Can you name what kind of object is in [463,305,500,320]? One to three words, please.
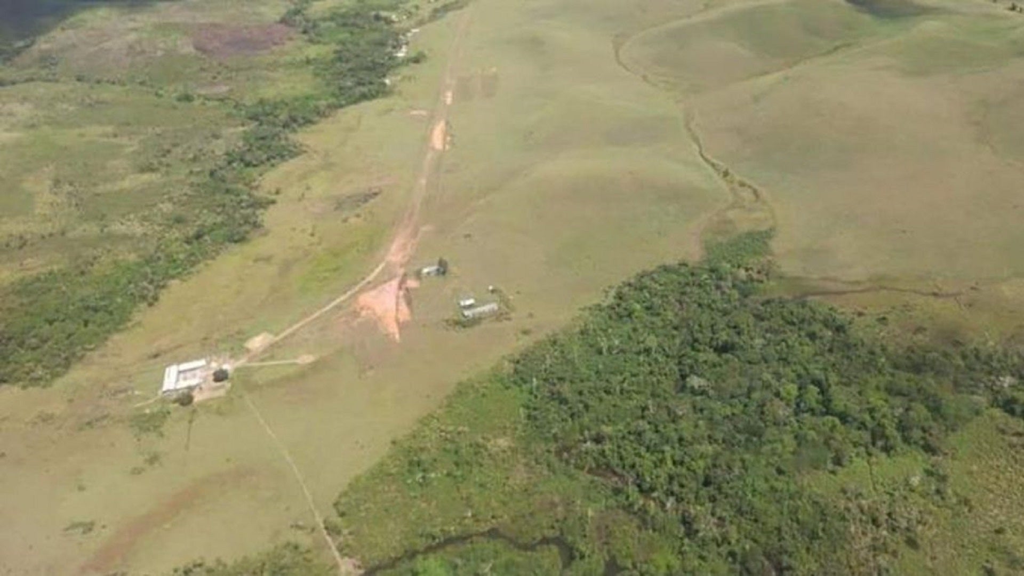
shed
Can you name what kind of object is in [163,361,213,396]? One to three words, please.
building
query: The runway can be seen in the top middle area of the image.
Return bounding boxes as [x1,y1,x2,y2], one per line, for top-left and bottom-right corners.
[394,0,473,277]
